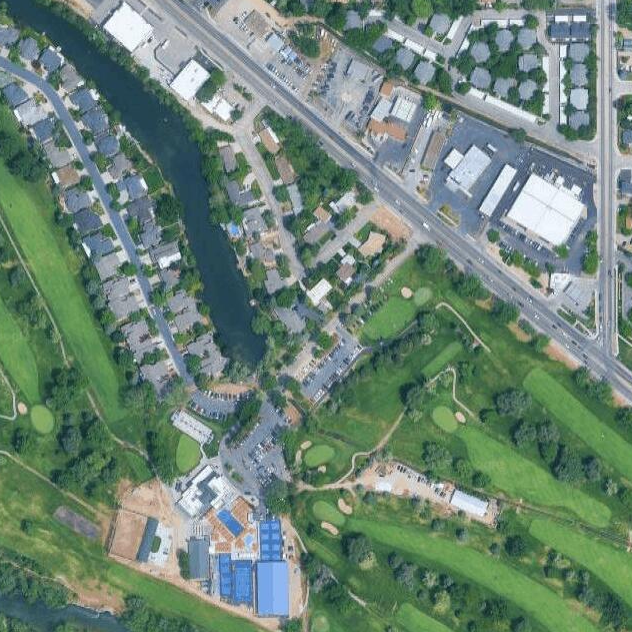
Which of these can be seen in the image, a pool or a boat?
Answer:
pool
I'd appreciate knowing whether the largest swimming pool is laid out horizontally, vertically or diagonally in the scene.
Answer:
diagonally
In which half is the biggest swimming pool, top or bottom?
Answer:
bottom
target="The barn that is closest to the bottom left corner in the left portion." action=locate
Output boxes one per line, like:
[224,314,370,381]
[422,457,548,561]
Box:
[137,518,159,562]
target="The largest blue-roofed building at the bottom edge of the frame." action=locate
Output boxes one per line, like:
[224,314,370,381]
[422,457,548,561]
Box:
[258,562,289,618]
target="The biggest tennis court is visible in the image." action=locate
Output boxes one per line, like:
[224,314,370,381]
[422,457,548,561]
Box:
[234,560,252,601]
